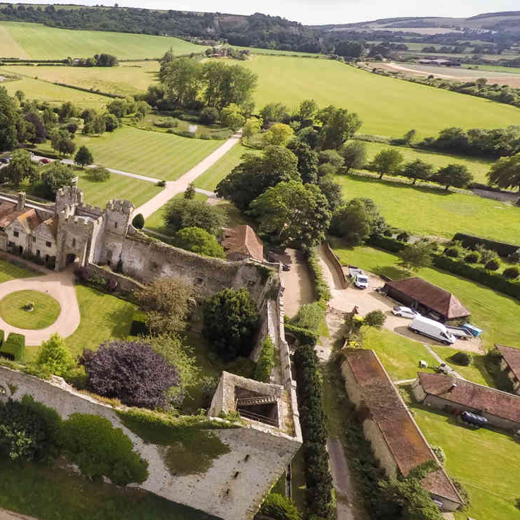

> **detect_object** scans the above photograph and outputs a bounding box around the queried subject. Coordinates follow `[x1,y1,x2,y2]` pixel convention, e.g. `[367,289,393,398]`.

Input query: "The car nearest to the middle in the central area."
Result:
[283,259,297,272]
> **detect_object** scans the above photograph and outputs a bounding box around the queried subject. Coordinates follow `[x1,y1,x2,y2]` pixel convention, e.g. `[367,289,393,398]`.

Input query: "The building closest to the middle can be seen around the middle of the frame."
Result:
[215,216,261,260]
